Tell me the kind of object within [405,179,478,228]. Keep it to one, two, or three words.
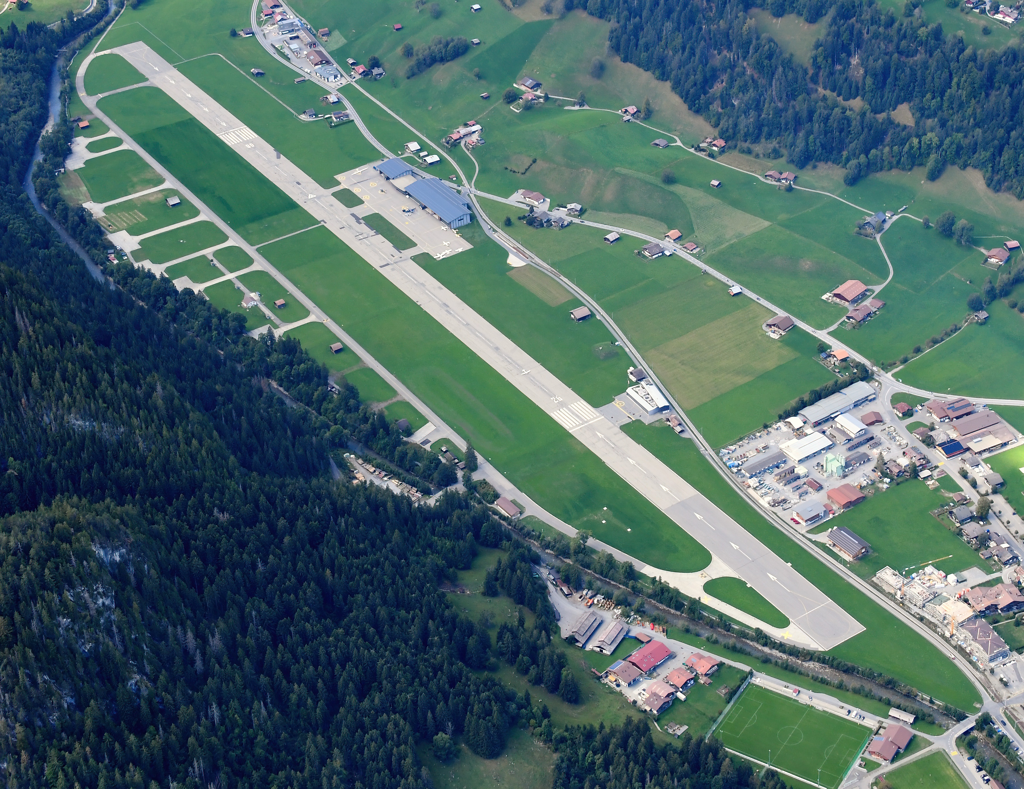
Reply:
hangar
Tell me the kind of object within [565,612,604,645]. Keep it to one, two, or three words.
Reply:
barn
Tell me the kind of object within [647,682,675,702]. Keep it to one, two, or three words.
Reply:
house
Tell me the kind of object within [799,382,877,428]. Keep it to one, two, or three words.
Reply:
building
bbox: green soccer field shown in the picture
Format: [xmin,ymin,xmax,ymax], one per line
[703,682,875,789]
